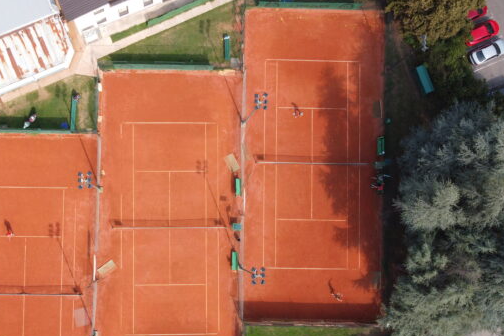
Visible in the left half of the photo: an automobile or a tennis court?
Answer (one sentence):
The feature located in the left half of the photo is a tennis court.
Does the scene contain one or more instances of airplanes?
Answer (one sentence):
No, I can't see a single airplane in this photo.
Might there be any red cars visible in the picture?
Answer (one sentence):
Yes, I can see a red car in this picture.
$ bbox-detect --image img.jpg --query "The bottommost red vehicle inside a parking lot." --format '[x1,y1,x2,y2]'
[470,19,503,44]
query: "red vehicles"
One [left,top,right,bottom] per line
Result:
[459,0,494,24]
[470,19,503,44]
